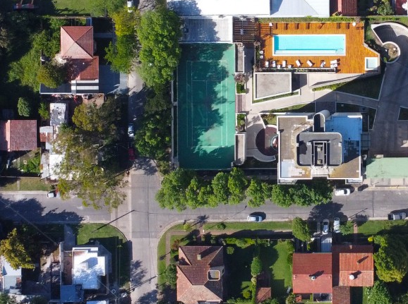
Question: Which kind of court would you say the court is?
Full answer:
I'd say the court is a tennis court.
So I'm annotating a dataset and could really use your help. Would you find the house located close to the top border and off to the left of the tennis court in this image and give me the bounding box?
[40,15,101,93]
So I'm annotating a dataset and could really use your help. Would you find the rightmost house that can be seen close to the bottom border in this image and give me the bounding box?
[332,243,374,304]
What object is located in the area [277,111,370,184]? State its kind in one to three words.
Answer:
building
